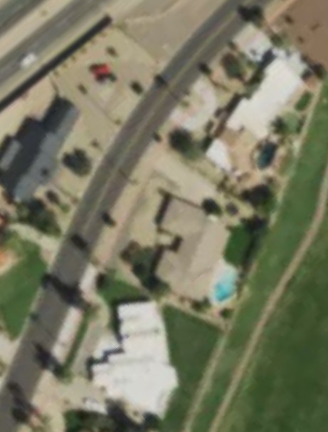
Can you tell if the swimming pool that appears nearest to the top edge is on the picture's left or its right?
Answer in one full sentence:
You can find the swimming pool that appears nearest to the top edge on the right side of the picture.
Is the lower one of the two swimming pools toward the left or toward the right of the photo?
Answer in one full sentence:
You can find the lower one of the two swimming pools on the right side of the picture.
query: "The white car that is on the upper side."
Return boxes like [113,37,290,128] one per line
[21,53,37,68]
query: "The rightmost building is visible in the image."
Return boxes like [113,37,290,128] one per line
[207,47,307,170]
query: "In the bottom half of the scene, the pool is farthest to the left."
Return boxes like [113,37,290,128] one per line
[211,262,237,302]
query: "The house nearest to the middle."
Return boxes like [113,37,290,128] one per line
[153,194,232,302]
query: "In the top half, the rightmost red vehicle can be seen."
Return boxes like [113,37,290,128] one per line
[93,63,110,76]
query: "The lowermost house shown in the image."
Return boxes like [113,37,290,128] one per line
[91,301,178,419]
